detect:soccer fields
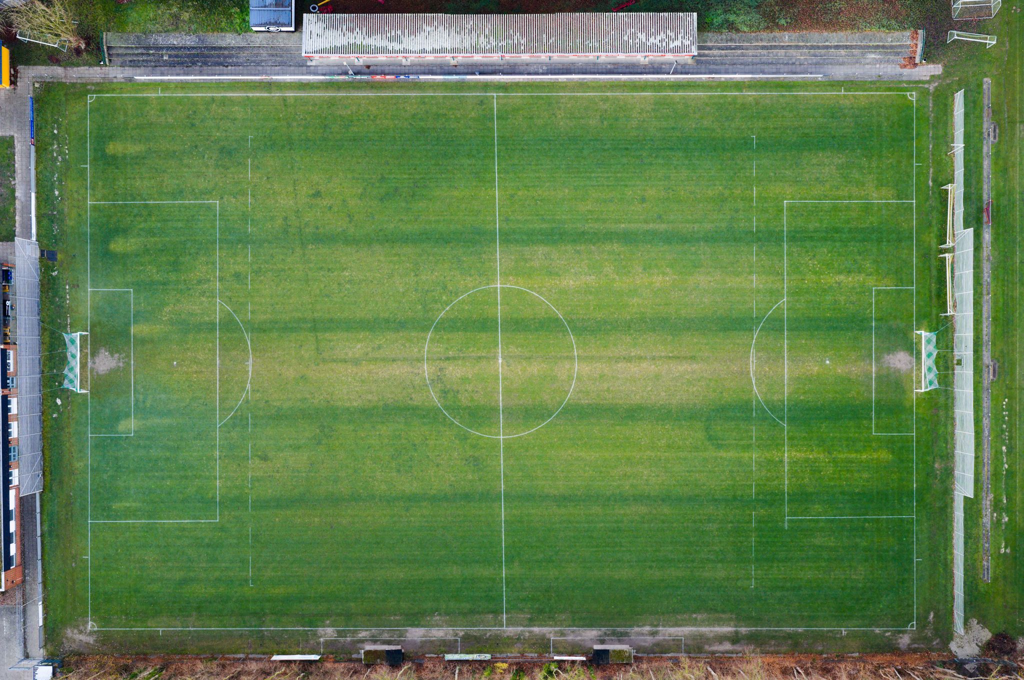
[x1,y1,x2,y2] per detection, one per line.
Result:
[81,87,921,654]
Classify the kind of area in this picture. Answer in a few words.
sports ground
